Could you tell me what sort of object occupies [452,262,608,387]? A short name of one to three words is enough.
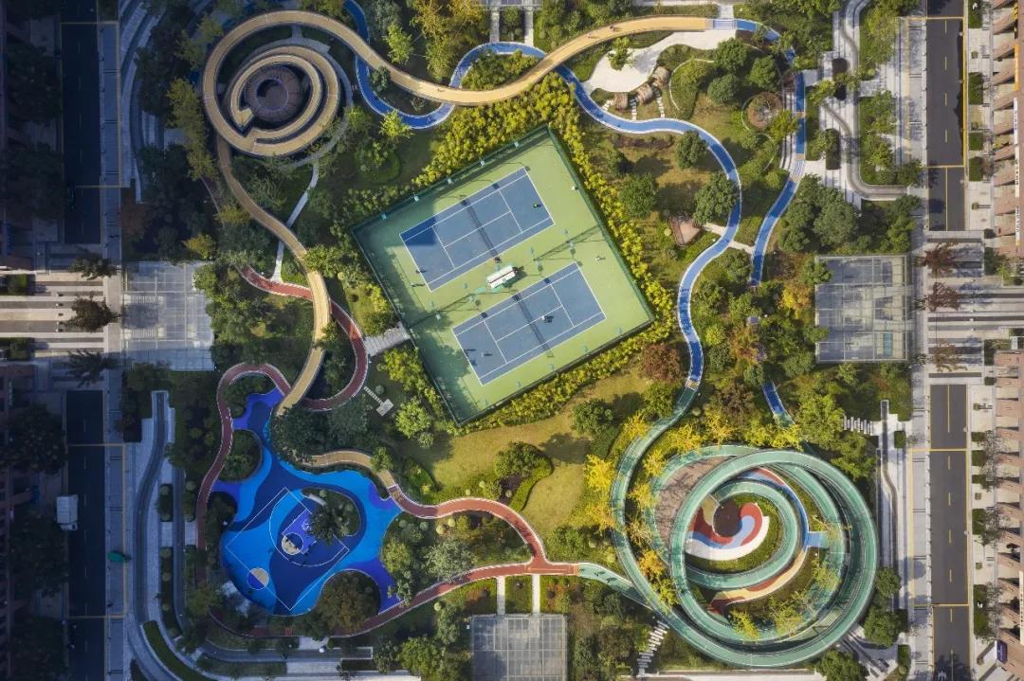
tennis court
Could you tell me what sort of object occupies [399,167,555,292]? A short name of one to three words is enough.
tennis court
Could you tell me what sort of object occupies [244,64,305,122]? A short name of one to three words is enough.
building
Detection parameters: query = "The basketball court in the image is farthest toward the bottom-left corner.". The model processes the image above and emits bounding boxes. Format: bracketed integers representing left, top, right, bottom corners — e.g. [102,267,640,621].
[207,389,404,616]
